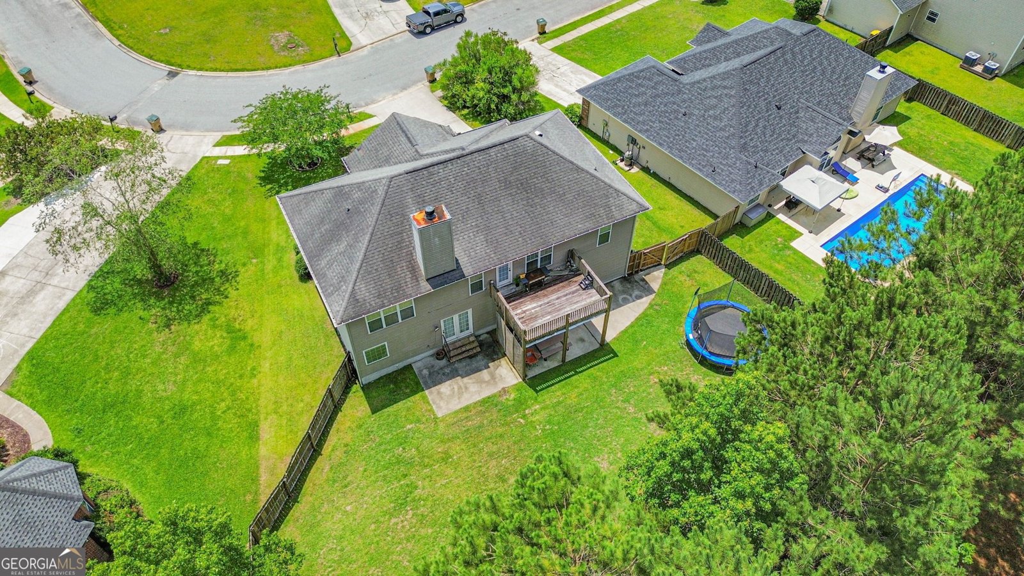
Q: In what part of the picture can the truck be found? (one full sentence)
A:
The truck appears toward the top of the photo.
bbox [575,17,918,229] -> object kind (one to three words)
house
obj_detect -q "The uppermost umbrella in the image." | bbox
[864,123,901,151]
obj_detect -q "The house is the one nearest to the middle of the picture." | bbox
[274,110,652,382]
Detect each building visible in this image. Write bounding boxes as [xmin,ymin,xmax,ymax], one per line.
[821,0,1024,72]
[575,17,918,229]
[274,110,652,382]
[0,456,107,576]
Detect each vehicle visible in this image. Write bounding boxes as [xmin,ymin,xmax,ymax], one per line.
[404,0,469,35]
